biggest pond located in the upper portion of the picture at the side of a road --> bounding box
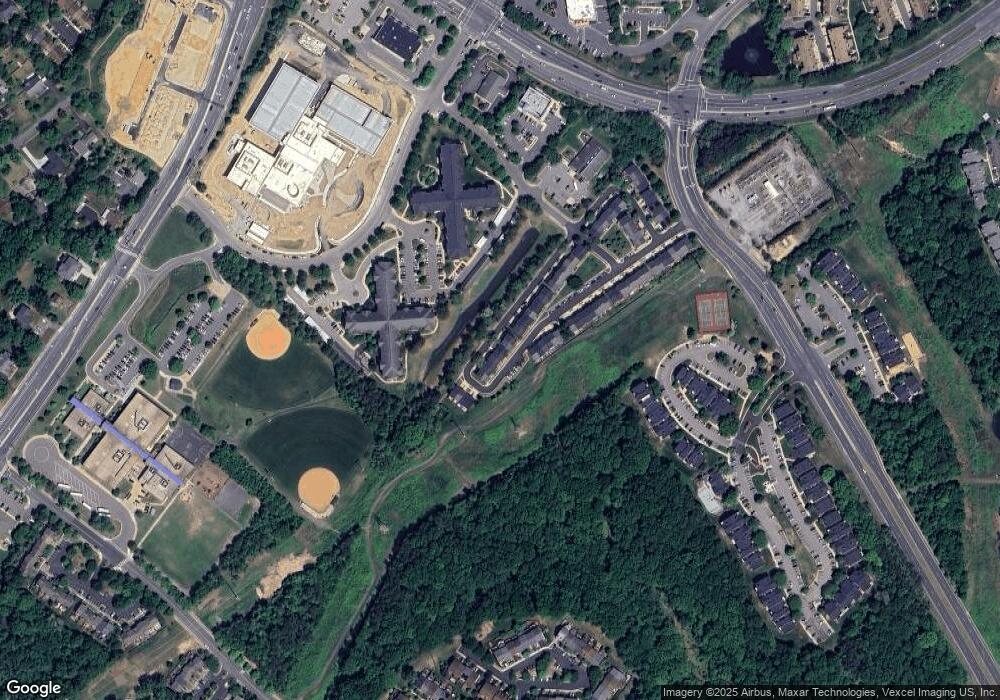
[723,21,780,76]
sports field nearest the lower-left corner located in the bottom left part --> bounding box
[142,486,240,589]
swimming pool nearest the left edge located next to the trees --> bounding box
[698,481,724,514]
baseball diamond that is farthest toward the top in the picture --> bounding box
[203,308,335,410]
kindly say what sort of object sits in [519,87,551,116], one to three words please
building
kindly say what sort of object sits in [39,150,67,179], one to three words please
house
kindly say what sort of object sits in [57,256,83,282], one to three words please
house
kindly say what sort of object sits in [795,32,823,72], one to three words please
building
